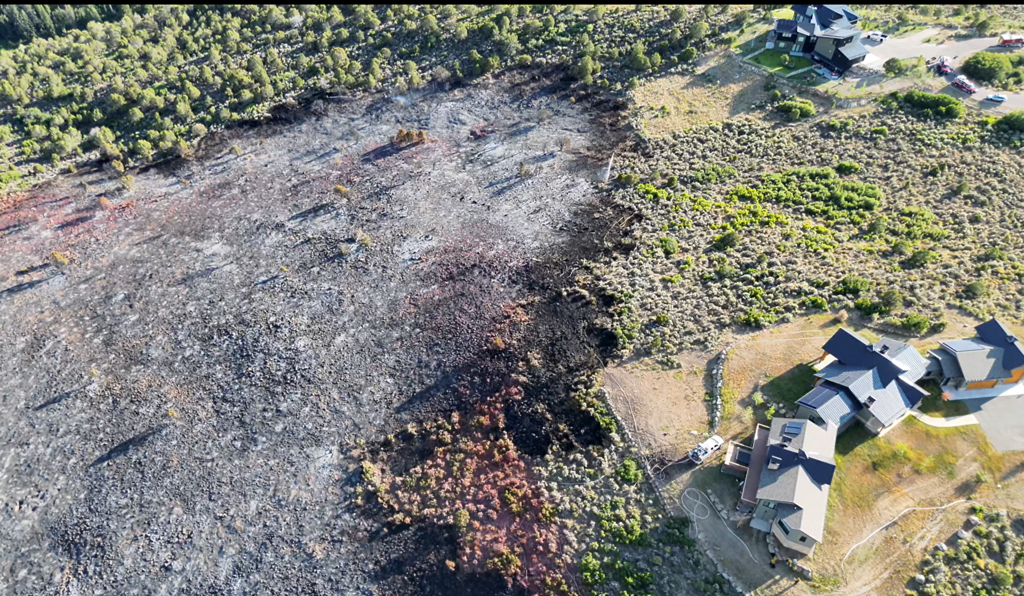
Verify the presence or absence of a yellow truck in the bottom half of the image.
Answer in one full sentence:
No, the scene shows no yellow truck in the bottom half of the image.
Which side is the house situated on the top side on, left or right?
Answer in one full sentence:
It is on the right.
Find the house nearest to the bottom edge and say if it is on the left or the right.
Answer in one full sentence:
The house nearest to the bottom edge appears in the right half of the scene.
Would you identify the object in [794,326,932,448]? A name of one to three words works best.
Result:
house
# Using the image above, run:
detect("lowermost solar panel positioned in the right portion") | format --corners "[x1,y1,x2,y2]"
[784,421,805,435]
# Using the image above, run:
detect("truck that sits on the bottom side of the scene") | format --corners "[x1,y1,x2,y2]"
[687,433,729,463]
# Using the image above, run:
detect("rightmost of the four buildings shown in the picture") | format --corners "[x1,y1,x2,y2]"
[918,318,1024,393]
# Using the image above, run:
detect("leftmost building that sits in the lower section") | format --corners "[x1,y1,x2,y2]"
[720,418,843,555]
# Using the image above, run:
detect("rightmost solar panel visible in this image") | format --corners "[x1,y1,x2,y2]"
[943,340,984,352]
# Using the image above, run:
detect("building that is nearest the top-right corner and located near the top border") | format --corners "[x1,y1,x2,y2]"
[764,0,866,82]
